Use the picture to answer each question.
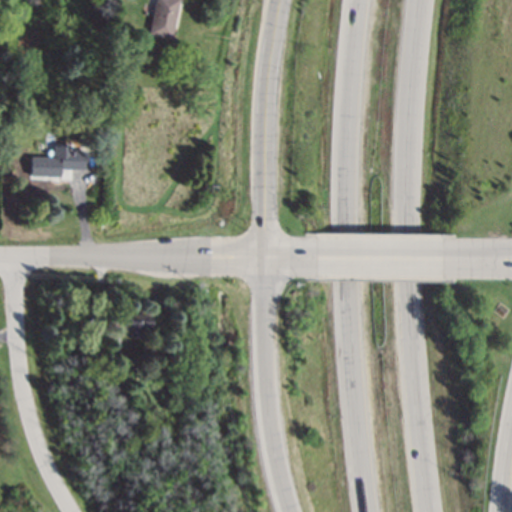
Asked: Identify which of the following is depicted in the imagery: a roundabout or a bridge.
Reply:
bridge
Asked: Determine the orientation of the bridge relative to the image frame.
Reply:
horizontally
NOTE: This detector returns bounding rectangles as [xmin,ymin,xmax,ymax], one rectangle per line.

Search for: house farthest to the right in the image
[152,0,186,36]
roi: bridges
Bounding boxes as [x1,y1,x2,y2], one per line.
[306,234,455,281]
